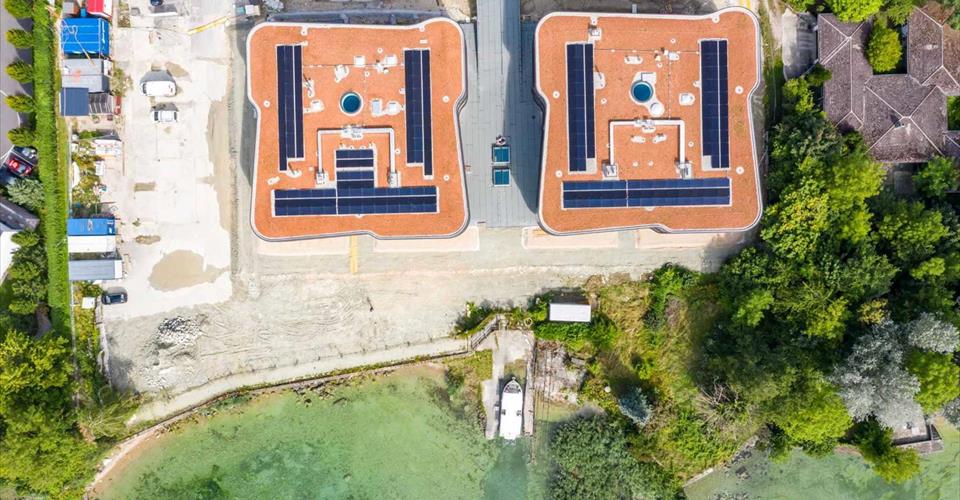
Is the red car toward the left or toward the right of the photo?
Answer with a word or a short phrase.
left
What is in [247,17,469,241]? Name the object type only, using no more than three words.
building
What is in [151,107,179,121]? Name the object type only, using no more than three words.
car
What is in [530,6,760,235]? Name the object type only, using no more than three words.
building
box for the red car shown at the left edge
[5,156,34,176]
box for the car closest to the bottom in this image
[100,291,128,305]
